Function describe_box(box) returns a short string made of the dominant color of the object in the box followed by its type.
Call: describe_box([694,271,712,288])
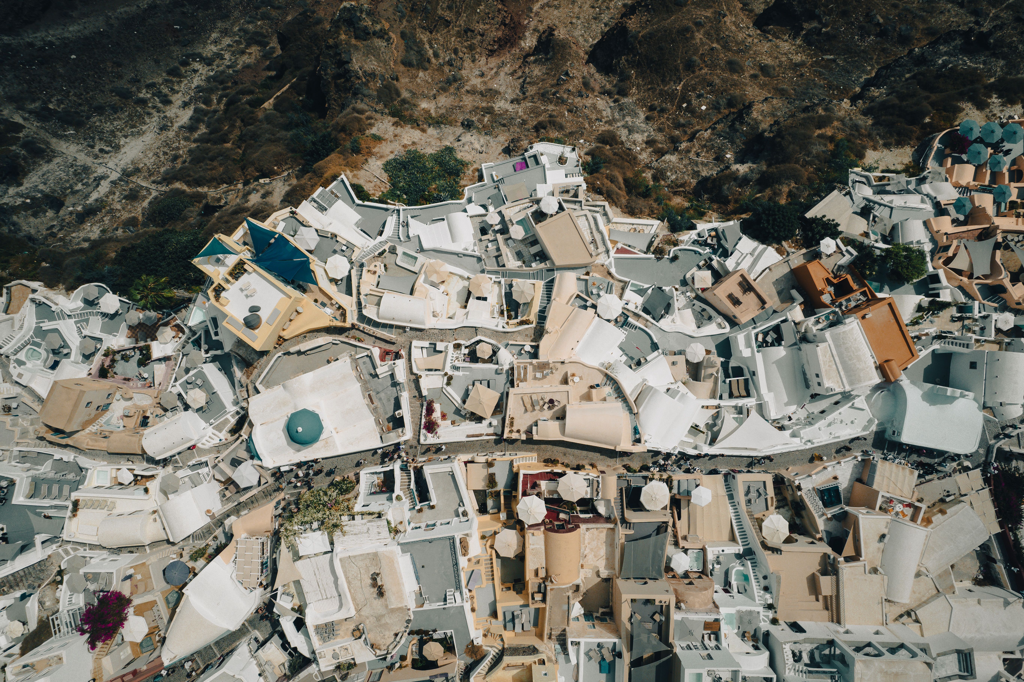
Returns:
white umbrella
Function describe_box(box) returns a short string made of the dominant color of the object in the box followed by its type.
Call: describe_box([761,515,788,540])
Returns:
white umbrella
